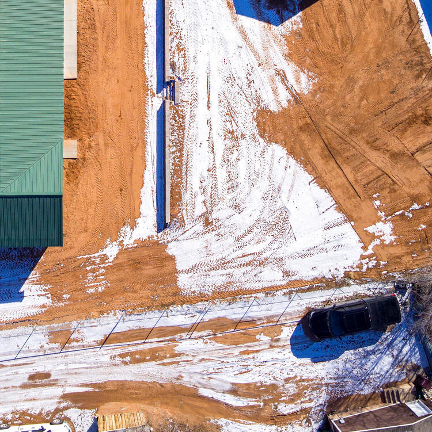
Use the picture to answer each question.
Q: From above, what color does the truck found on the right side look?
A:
black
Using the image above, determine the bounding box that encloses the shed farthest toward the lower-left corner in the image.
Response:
[99,411,149,432]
